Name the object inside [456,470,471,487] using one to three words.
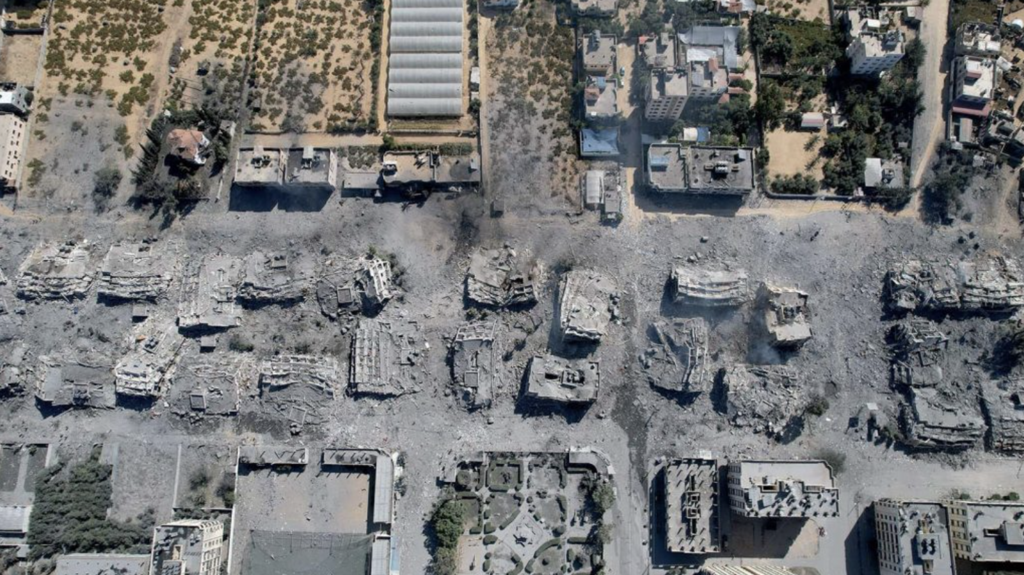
gazebo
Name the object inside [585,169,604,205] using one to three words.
shed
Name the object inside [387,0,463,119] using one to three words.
greenhouse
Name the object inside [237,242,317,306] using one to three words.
building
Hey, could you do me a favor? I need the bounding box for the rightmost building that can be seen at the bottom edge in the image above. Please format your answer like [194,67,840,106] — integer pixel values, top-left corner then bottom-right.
[937,499,1024,562]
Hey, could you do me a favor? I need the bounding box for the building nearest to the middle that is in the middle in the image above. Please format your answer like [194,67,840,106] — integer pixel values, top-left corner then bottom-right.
[461,243,548,304]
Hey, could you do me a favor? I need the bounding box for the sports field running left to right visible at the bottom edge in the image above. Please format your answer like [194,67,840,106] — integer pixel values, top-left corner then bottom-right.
[246,531,374,575]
